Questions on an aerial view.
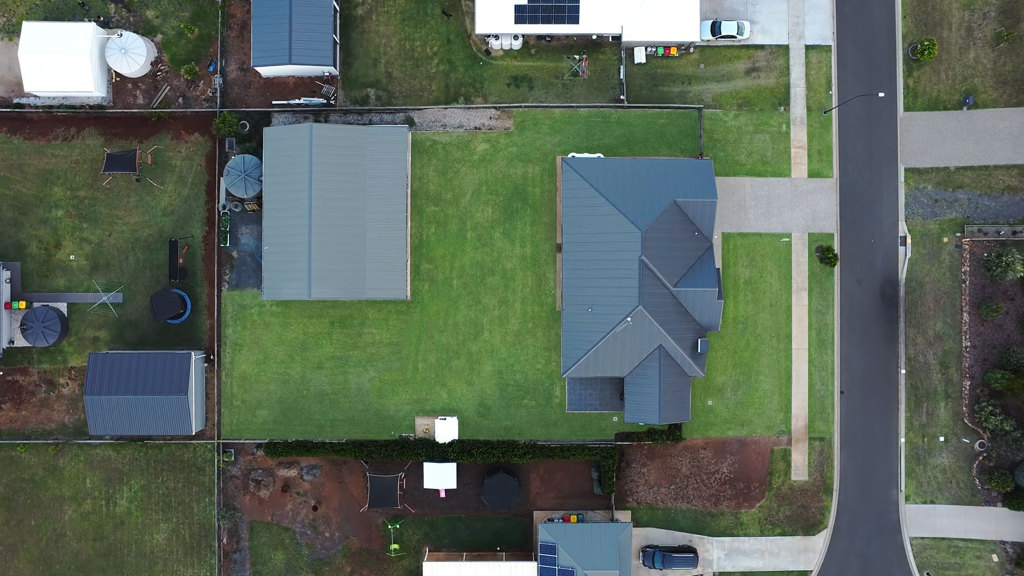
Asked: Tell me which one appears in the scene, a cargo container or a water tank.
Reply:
water tank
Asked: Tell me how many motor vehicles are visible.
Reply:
two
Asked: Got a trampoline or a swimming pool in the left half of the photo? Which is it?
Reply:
trampoline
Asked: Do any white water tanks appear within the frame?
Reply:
Yes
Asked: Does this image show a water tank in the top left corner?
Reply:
Yes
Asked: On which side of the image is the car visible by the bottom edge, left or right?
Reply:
right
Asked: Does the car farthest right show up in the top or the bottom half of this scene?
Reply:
top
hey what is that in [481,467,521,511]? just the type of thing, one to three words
trampoline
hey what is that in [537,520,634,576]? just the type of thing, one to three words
house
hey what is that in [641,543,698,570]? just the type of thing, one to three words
car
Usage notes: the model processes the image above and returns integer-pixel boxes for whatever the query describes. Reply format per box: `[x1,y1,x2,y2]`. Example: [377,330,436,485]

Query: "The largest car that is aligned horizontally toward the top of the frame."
[700,17,755,43]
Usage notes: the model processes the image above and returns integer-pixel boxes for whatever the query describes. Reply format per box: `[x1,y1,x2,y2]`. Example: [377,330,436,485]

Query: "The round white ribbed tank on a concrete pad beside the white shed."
[105,31,154,79]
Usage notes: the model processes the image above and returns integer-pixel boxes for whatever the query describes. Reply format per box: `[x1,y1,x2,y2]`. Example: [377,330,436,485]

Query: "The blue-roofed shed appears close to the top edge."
[250,0,342,77]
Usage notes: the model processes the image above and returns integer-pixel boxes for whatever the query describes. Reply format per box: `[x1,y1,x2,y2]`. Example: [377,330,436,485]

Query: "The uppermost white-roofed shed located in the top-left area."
[18,20,118,97]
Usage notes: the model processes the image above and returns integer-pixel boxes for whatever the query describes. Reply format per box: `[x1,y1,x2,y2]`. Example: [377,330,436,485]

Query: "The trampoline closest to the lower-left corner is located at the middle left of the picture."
[151,289,191,324]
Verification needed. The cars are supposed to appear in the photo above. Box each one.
[700,17,755,43]
[641,543,698,570]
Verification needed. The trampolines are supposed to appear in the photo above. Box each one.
[481,467,521,511]
[151,289,191,324]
